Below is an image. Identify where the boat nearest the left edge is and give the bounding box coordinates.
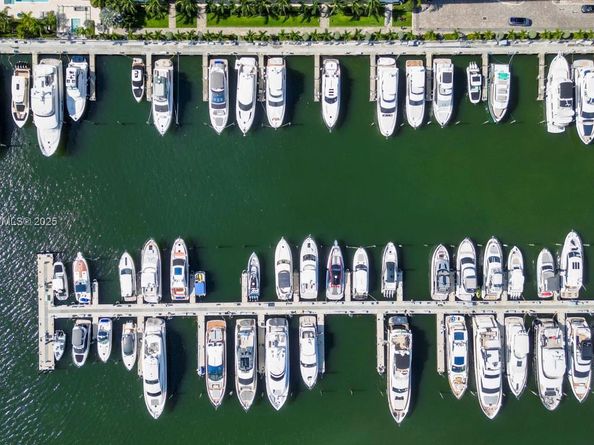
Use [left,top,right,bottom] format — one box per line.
[8,54,34,129]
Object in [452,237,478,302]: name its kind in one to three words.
boat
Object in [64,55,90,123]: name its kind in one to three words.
boat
